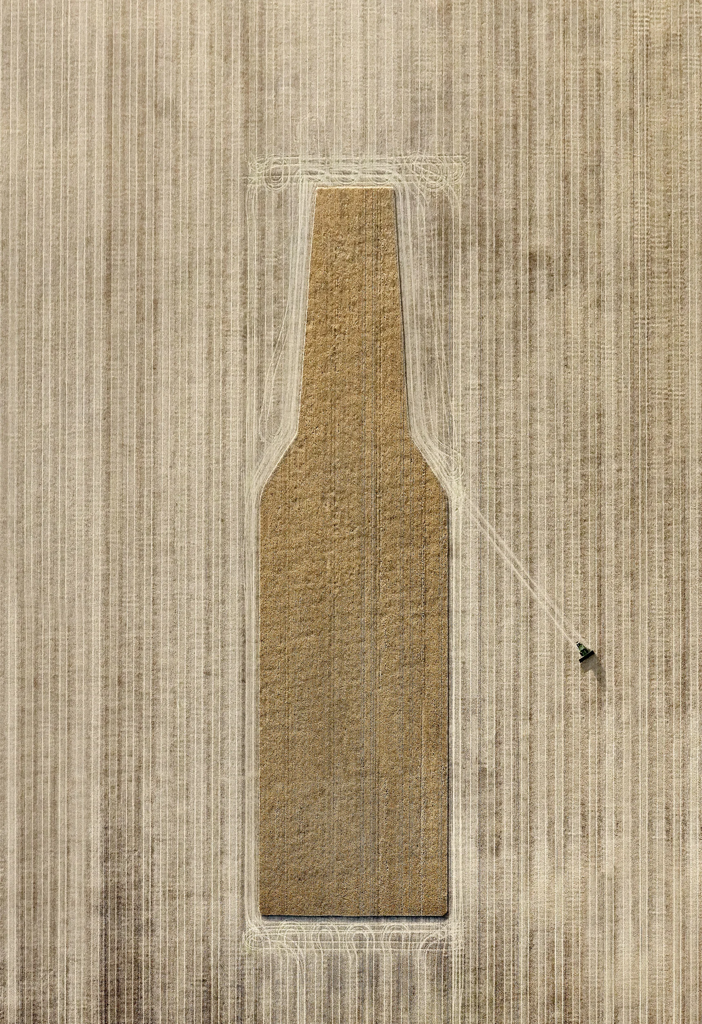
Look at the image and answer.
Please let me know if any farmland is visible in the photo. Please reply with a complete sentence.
Yes, farmland can be seen from above here.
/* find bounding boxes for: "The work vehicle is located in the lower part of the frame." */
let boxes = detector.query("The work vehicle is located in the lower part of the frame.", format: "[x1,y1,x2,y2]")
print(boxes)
[575,642,595,663]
